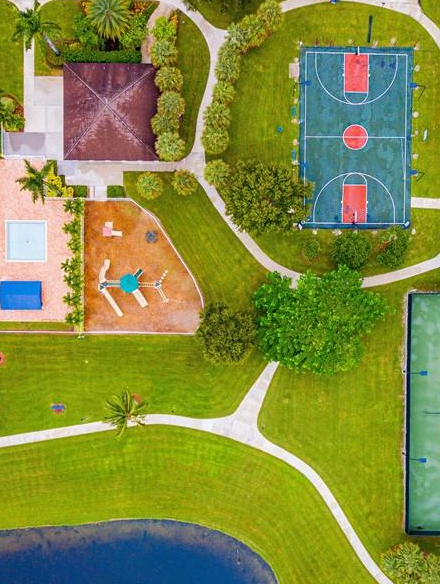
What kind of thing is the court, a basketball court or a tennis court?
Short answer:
basketball court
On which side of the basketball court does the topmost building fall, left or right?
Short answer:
to its left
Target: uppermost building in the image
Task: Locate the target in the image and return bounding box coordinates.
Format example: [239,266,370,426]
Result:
[63,63,159,160]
